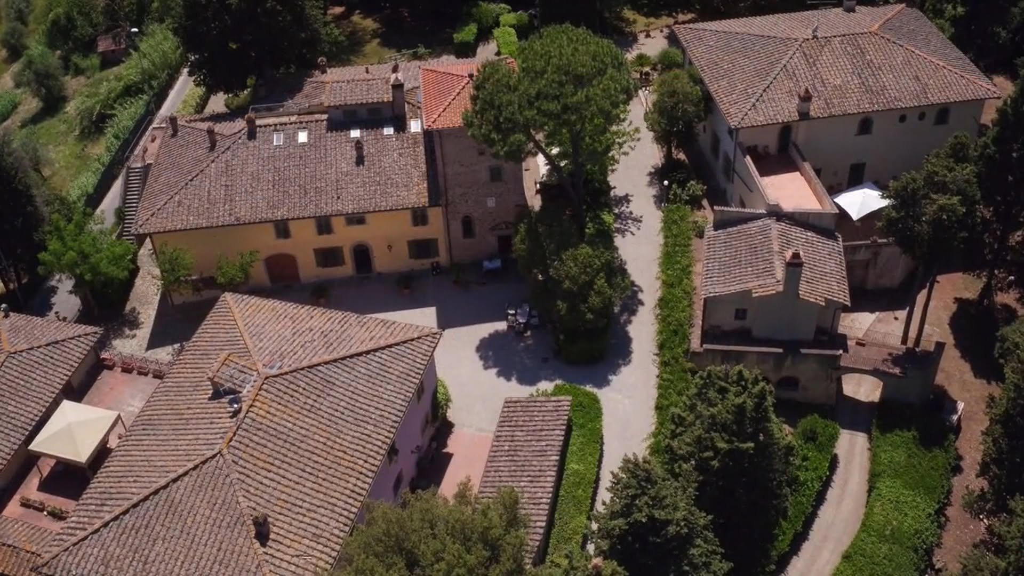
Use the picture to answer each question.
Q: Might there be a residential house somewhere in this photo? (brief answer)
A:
Yes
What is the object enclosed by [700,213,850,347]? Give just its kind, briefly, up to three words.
house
